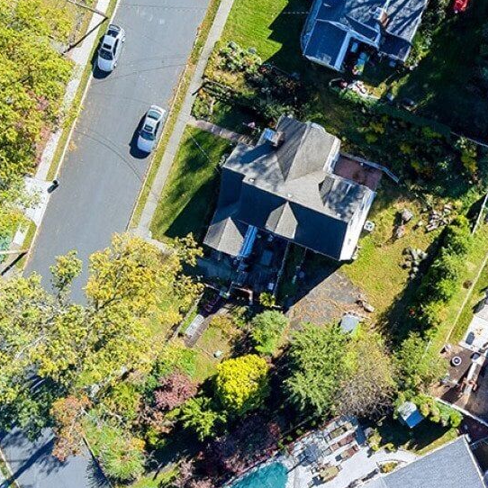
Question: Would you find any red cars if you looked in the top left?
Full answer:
No, looking in the top left, there is no red car.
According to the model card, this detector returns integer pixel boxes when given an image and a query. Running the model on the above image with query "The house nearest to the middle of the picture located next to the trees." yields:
[203,116,382,263]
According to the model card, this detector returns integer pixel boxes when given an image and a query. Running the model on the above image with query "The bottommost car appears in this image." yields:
[136,103,167,154]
